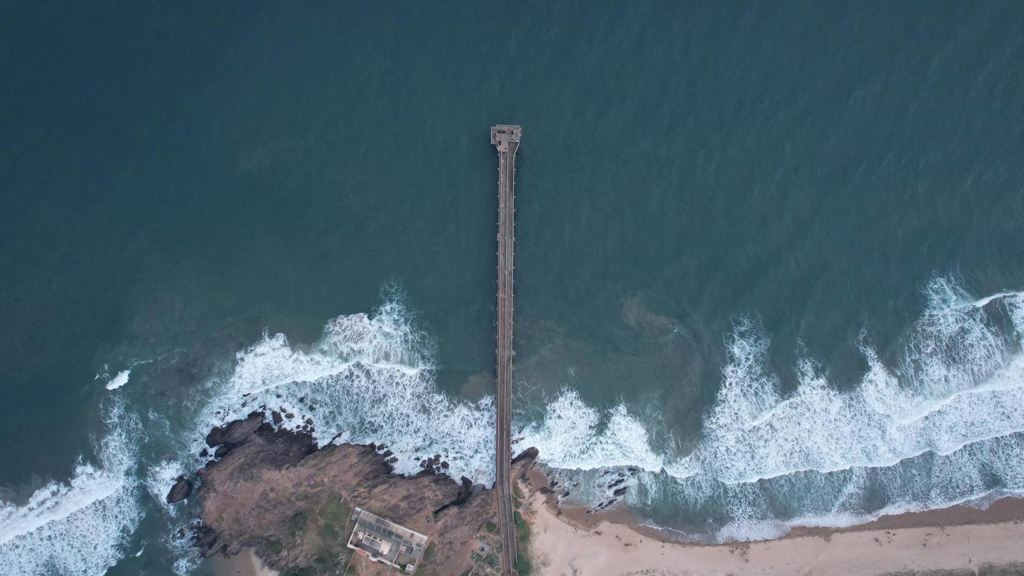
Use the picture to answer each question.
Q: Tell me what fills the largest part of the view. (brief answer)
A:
water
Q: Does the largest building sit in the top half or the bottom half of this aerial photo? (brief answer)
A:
bottom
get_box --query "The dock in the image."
[491,125,522,576]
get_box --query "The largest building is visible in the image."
[347,509,428,572]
